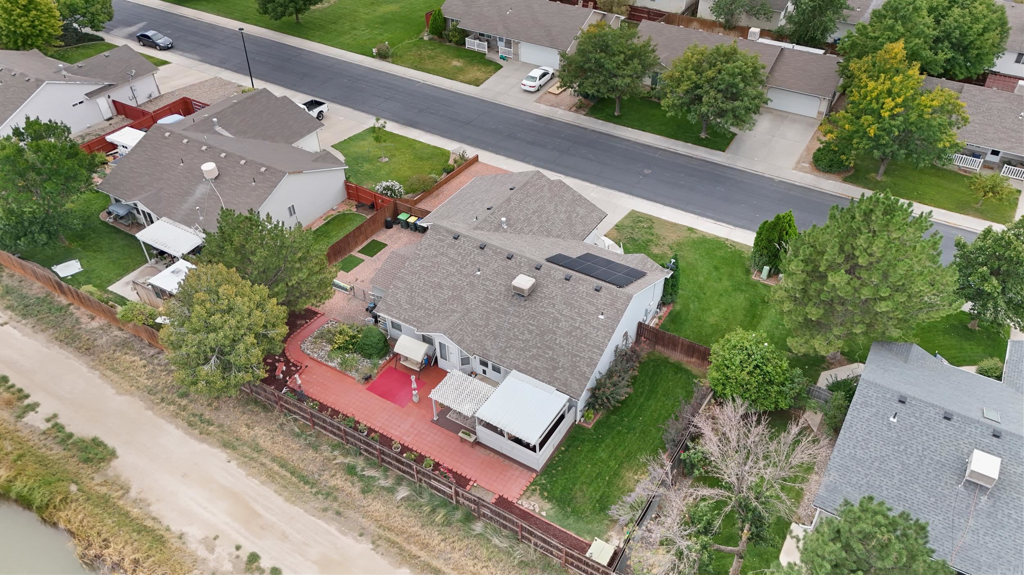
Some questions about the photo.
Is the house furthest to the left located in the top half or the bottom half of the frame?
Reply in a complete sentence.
The house furthest to the left sits in the top half of the picture.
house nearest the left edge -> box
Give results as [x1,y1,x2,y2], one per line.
[0,45,162,144]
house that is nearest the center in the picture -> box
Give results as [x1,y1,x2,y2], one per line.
[368,173,672,427]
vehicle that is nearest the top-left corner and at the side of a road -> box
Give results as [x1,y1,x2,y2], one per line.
[135,31,173,49]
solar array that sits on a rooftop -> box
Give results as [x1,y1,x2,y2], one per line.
[547,249,646,286]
